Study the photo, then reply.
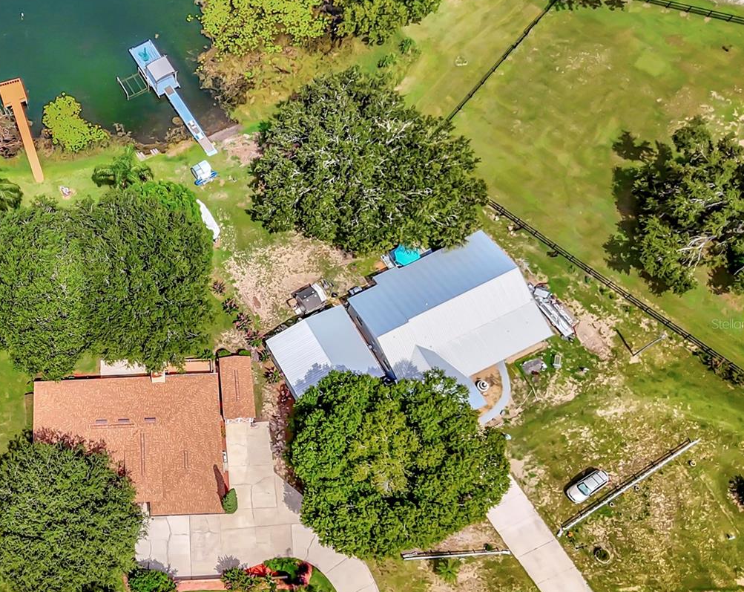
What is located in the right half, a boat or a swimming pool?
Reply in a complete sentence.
There is a boat in the right half.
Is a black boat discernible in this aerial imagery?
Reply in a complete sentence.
No, there is no black boat in the image.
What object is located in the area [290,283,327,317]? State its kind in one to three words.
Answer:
trailer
